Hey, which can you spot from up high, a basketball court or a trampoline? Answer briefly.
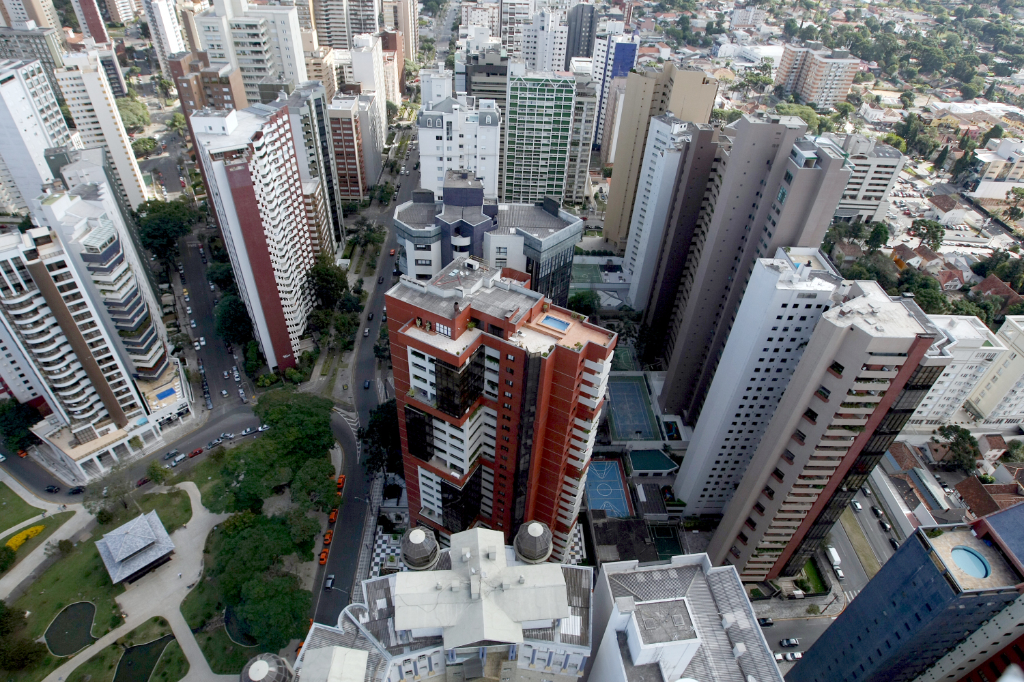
basketball court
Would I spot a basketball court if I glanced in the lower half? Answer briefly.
Yes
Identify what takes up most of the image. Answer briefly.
buildings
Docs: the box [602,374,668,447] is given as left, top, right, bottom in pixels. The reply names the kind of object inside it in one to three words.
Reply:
tennis court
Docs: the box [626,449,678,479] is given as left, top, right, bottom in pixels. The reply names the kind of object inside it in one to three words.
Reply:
building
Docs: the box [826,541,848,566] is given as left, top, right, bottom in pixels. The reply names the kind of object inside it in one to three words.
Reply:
truck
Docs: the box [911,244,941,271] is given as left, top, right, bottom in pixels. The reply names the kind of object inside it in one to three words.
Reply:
house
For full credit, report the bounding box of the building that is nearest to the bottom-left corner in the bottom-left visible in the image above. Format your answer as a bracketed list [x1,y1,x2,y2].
[93,508,177,589]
